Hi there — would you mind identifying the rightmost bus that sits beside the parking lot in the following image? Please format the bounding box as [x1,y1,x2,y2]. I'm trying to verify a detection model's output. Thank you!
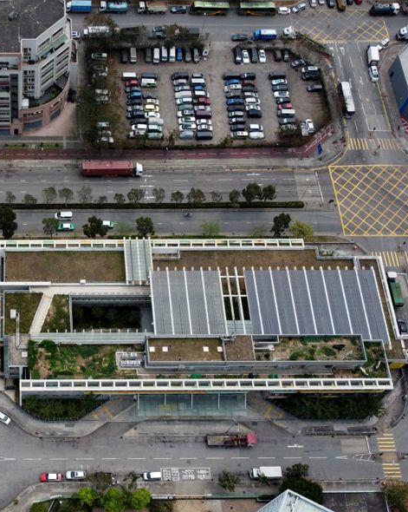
[336,79,360,116]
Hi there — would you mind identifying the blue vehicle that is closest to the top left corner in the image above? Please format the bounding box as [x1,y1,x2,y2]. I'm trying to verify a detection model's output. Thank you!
[66,0,91,13]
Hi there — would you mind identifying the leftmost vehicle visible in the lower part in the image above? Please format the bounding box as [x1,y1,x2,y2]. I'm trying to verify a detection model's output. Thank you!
[0,411,12,425]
